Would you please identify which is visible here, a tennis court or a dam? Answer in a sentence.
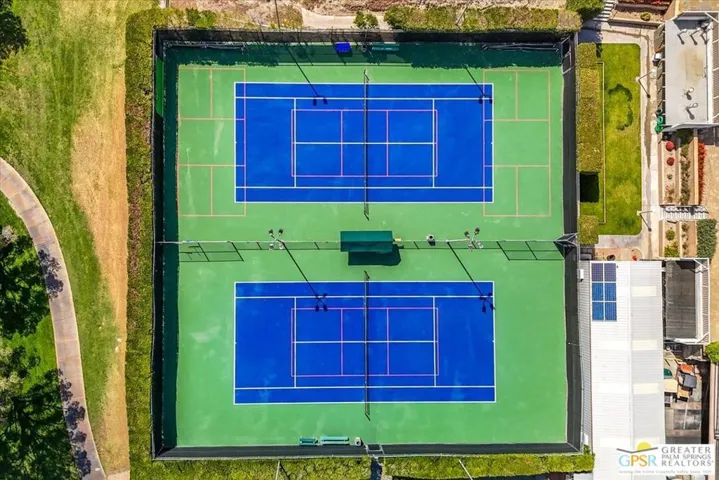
Looking from above, you can make out a tennis court.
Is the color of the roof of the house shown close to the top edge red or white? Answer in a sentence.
From above, the roof of the house shown close to the top edge appears white.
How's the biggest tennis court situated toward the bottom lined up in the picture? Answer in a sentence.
In this picture, the biggest tennis court situated toward the bottom is oriented horizontally.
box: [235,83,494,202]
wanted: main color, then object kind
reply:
blue tennis court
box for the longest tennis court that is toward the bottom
[234,281,496,404]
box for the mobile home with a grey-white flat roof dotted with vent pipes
[654,13,719,134]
